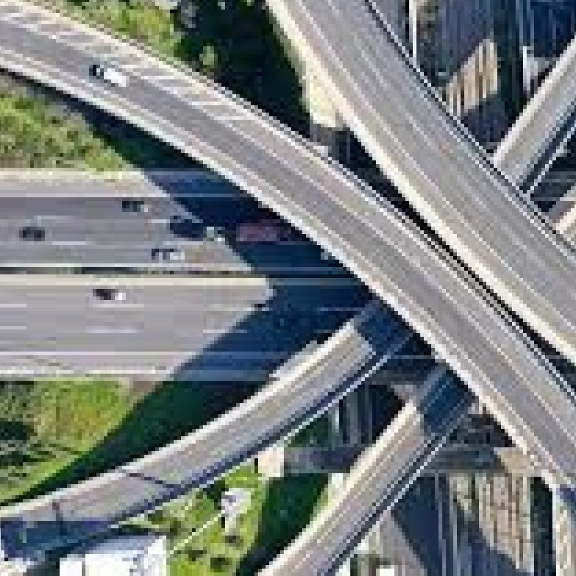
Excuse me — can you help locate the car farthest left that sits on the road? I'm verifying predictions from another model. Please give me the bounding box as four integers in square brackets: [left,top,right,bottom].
[19,224,49,241]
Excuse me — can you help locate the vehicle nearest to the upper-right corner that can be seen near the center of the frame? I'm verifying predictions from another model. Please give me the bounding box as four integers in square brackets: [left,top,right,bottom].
[304,245,335,261]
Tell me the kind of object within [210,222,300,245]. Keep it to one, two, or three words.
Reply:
truck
